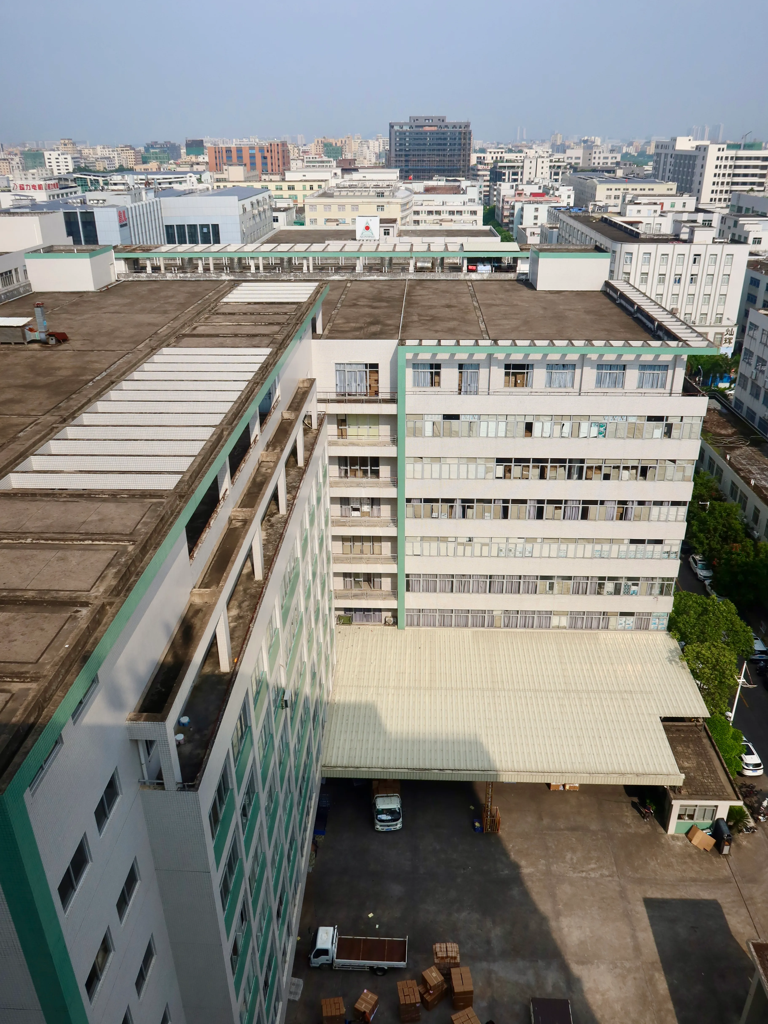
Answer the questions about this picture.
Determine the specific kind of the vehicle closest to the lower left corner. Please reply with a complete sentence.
It looks like the vehicle closest to the lower left corner is a truck.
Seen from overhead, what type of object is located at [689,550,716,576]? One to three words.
car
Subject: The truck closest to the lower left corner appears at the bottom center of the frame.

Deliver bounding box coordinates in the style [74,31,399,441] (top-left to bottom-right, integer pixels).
[307,920,408,971]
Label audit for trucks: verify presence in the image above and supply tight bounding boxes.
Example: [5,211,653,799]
[307,920,408,971]
[371,778,406,824]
